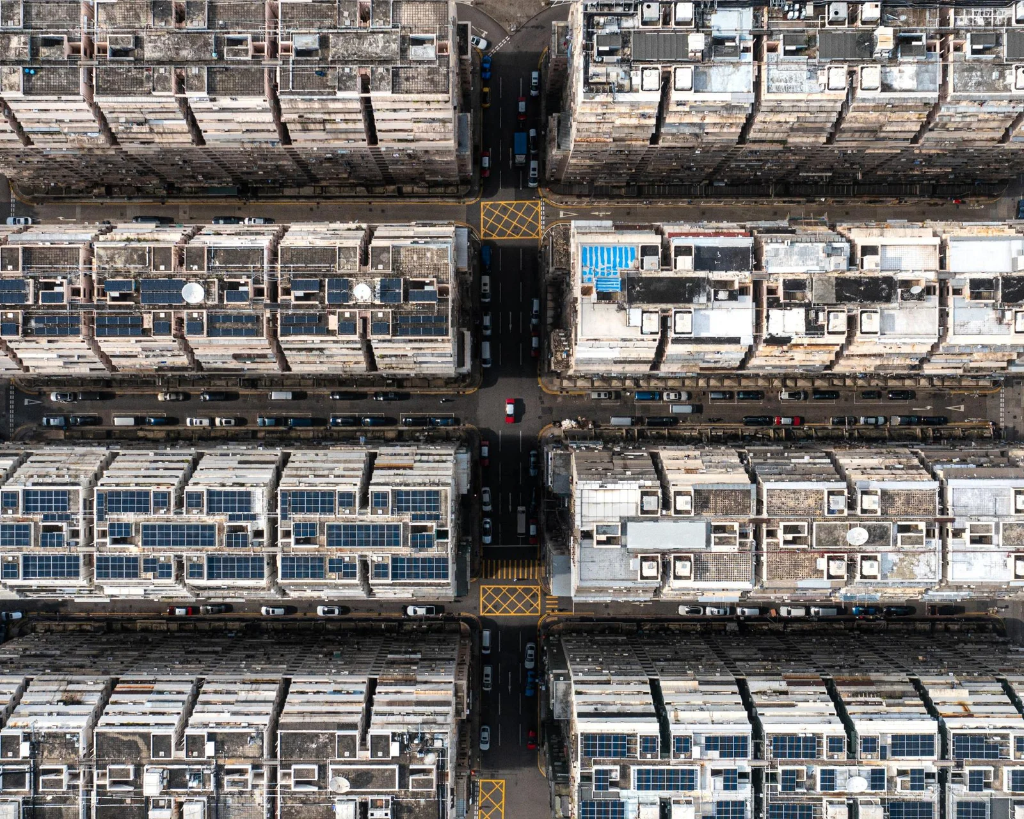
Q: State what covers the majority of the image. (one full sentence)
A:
The largest share of the image is taken up by buildings.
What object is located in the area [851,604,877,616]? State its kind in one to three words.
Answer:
vehicle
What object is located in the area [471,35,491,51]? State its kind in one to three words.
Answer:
car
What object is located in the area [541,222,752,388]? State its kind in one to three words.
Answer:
building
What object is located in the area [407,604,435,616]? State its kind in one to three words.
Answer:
vehicle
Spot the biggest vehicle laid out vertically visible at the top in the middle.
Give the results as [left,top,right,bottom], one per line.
[514,129,527,167]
